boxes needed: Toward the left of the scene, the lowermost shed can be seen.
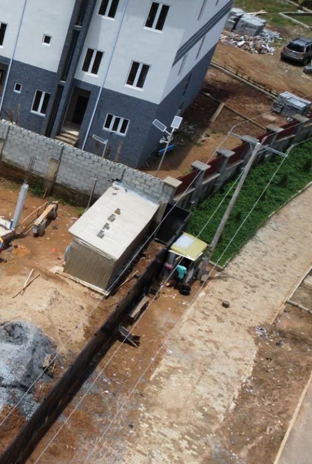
[63,185,158,295]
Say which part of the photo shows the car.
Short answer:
top right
